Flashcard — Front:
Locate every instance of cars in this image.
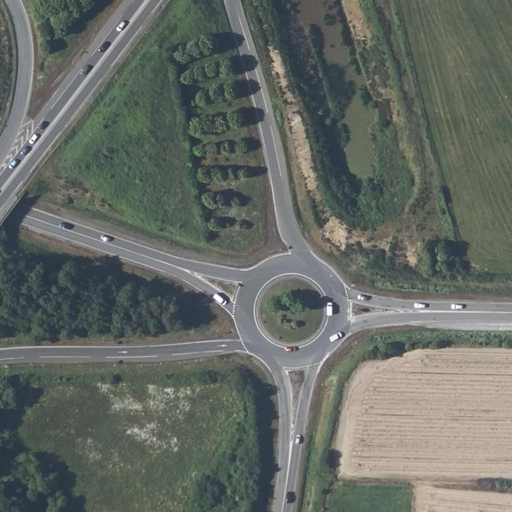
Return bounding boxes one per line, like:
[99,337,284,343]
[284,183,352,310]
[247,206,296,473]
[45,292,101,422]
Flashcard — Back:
[451,304,462,309]
[82,64,91,76]
[21,146,30,156]
[285,346,294,352]
[117,20,126,30]
[60,222,72,229]
[39,120,48,131]
[101,235,112,242]
[29,134,38,144]
[10,159,19,170]
[356,294,368,300]
[100,42,109,52]
[294,434,300,444]
[286,492,292,503]
[414,303,426,308]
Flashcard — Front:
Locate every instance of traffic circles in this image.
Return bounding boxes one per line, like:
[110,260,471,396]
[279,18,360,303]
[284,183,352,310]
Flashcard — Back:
[234,252,351,368]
